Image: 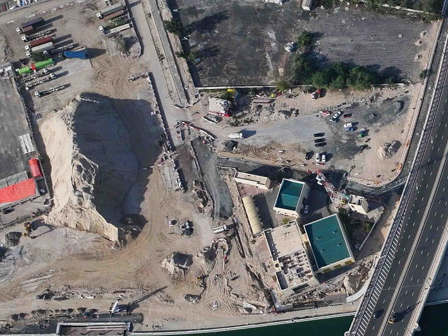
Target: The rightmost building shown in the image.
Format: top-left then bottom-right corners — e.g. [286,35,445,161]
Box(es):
[348,194,383,222]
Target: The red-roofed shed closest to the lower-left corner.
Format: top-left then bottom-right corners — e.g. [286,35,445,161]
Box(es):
[0,179,43,209]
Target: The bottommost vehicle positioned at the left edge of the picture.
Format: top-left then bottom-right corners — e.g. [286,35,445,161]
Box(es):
[19,219,33,234]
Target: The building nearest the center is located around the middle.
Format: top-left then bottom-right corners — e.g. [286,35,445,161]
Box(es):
[235,172,270,188]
